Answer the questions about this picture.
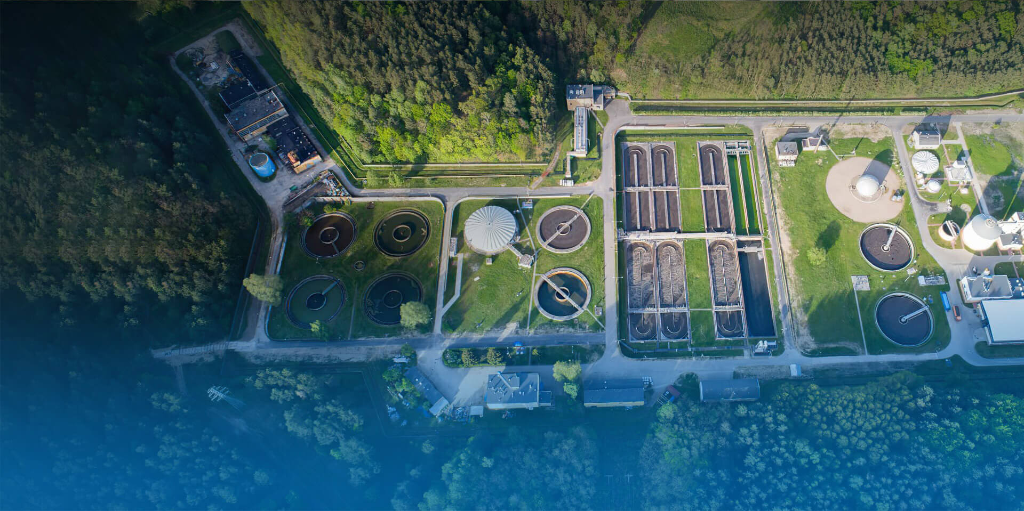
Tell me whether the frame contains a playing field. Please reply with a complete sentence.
No, there's no playing field here.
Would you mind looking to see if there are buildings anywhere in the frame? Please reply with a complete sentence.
Yes, there is a building in the image.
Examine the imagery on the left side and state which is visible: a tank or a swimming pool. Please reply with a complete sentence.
What appears on the left side is a tank.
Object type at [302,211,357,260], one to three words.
storage tank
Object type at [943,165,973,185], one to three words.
house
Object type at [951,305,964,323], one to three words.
vehicle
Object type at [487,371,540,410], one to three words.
building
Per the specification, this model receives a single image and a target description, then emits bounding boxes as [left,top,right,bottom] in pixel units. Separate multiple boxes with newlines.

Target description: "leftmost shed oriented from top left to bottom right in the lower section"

[404,365,445,406]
